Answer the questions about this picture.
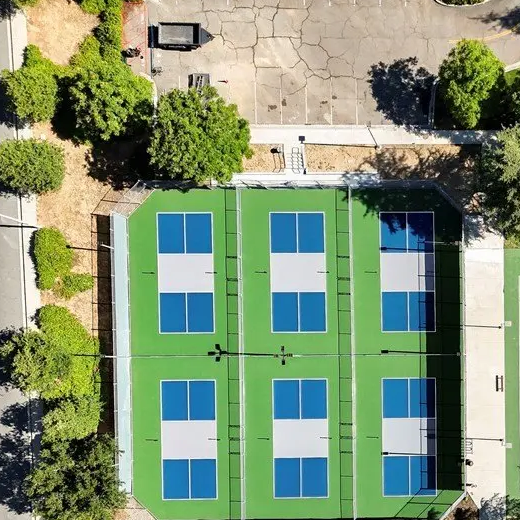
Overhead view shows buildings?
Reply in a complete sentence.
No, I can't see a single building in this photo.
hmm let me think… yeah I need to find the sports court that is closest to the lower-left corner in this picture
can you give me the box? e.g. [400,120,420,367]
[130,354,244,520]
